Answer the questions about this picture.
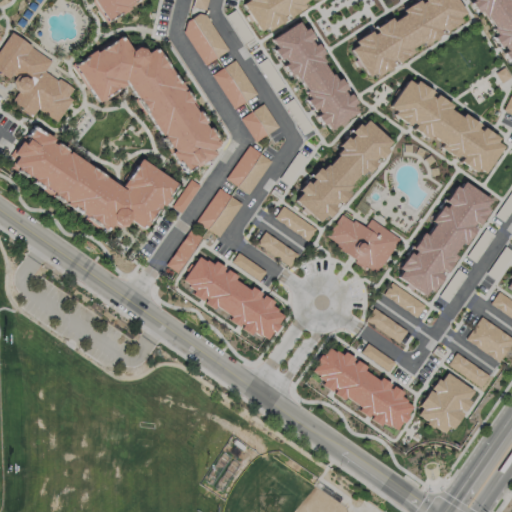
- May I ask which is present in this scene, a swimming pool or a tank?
swimming pool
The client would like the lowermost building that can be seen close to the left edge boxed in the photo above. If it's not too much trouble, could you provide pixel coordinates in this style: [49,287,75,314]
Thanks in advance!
[14,132,180,230]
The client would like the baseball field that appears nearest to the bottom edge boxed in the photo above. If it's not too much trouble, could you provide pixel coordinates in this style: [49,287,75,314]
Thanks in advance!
[226,450,349,512]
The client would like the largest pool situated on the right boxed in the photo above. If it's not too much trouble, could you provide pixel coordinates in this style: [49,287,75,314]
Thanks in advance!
[366,160,438,230]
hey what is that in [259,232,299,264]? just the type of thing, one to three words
building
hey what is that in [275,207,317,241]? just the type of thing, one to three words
building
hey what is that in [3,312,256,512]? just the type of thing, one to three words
sports field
